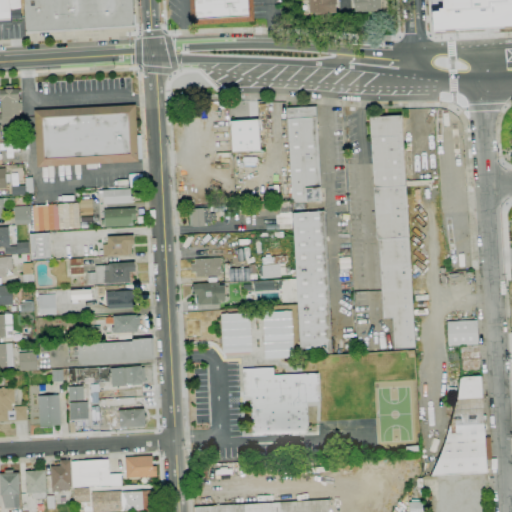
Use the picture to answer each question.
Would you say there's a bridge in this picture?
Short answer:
No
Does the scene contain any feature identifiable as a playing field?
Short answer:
Yes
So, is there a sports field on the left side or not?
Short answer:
No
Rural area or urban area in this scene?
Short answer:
urban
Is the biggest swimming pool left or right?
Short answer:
left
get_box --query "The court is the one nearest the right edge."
[377,378,419,446]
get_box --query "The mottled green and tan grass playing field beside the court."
[319,350,417,420]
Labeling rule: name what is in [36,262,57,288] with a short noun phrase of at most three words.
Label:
swimming pool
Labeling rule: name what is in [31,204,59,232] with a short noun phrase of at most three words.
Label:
building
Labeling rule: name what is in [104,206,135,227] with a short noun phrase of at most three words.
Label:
house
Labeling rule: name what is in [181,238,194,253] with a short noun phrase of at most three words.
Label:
vehicle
